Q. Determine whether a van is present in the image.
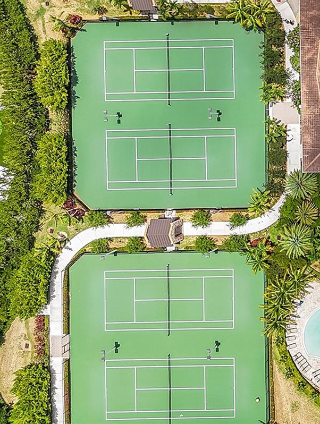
No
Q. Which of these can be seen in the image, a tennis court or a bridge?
tennis court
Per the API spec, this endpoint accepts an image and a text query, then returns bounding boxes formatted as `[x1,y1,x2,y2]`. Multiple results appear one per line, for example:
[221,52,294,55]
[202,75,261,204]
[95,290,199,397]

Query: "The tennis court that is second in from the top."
[73,113,267,210]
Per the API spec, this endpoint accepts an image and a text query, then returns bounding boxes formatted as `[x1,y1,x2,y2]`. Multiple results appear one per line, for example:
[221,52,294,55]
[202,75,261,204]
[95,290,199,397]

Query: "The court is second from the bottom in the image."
[69,252,266,345]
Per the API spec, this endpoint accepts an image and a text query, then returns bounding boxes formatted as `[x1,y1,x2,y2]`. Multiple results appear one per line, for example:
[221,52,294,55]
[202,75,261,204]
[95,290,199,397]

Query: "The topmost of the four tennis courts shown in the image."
[72,21,266,115]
